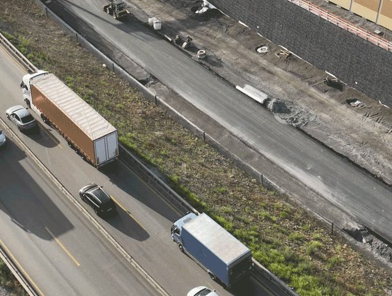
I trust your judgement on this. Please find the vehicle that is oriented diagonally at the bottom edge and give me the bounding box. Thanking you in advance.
[167,204,249,285]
